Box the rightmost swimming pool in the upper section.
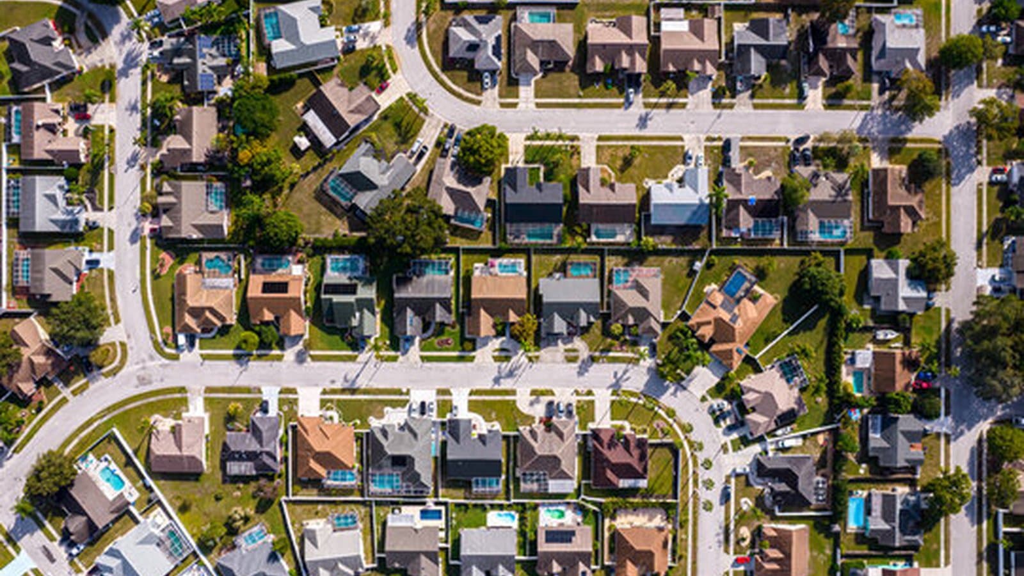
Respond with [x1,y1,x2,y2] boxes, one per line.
[892,9,923,23]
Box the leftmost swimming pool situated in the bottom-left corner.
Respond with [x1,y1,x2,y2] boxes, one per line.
[85,455,131,497]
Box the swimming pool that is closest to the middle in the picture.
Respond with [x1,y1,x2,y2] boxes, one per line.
[489,258,525,275]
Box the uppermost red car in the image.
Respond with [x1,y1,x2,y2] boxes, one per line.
[375,81,390,95]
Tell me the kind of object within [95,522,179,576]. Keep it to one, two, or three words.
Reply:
house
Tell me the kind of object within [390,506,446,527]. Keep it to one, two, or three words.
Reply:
swimming pool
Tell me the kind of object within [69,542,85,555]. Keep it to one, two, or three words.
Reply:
vehicle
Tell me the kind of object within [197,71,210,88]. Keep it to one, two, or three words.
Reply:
solar panel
